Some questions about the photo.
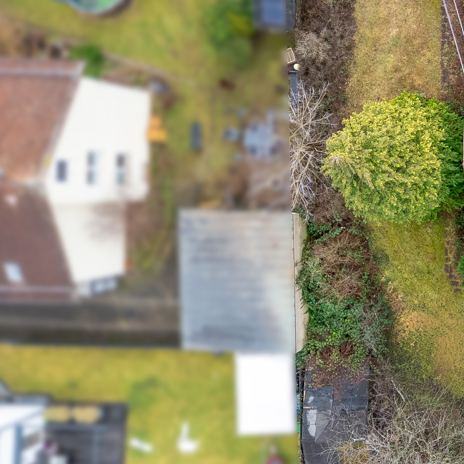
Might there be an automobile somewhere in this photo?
No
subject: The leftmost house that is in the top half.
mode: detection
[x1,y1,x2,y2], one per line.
[0,54,147,291]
